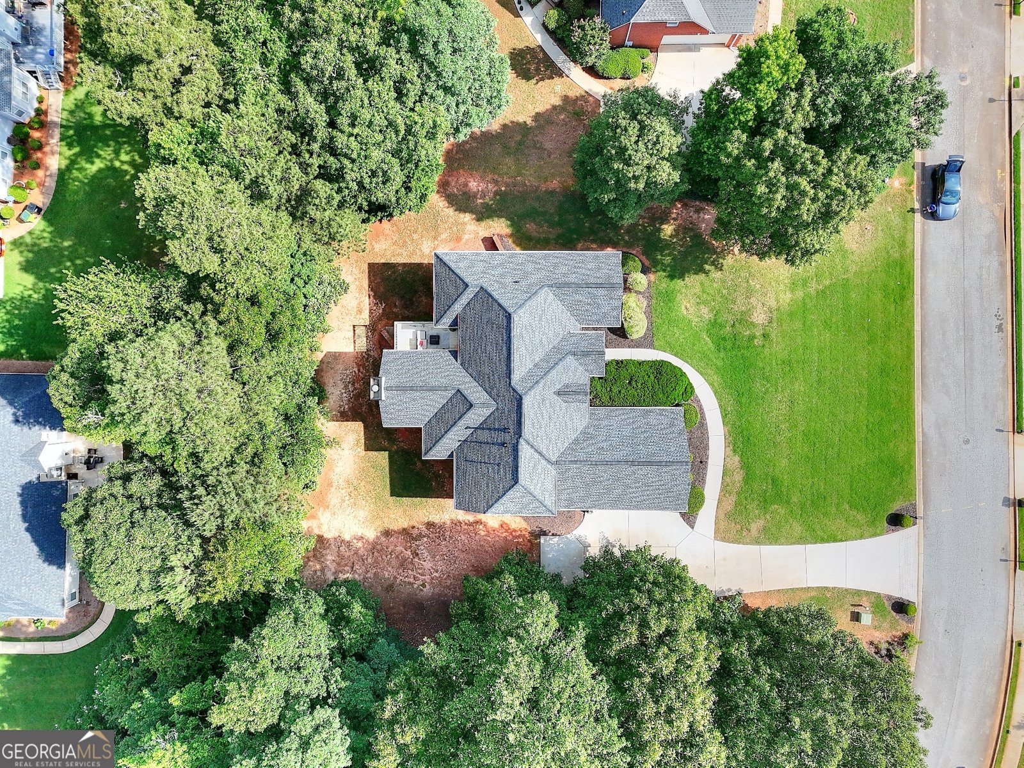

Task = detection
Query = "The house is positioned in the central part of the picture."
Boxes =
[369,250,692,516]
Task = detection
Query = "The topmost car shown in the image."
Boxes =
[931,151,967,220]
